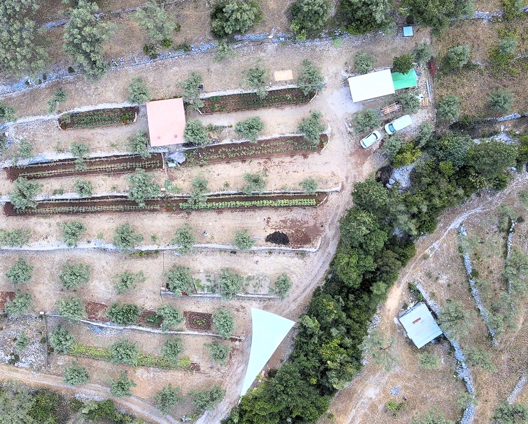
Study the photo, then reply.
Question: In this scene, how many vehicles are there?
2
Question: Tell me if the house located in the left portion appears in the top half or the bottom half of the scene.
top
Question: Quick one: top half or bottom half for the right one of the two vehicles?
top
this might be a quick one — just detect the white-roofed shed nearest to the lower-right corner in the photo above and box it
[397,302,442,348]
